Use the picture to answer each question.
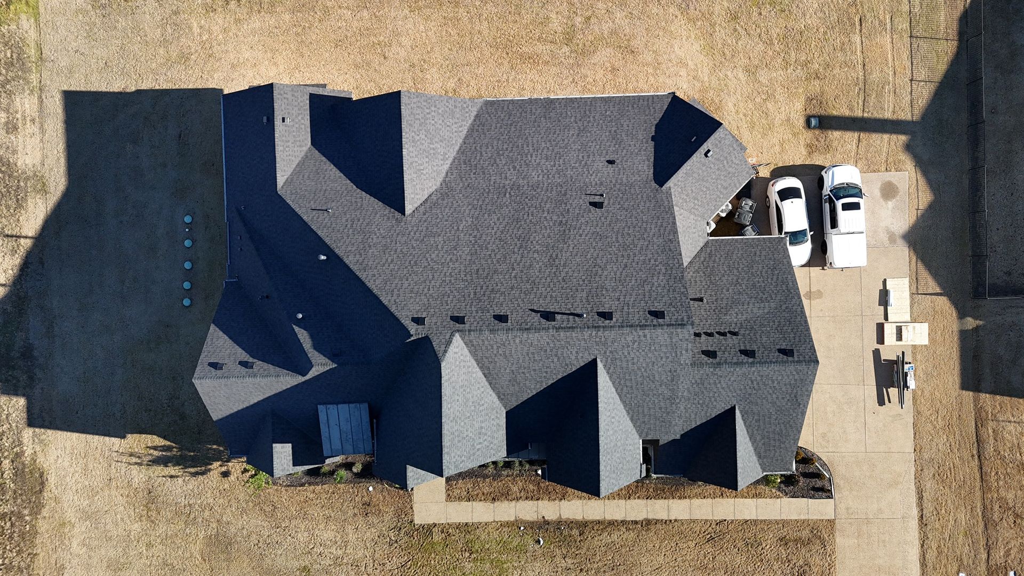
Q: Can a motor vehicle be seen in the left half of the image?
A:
No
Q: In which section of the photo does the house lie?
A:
center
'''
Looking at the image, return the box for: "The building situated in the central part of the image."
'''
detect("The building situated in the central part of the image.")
[193,81,819,497]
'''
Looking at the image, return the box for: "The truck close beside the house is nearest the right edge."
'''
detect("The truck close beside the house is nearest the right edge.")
[816,166,869,274]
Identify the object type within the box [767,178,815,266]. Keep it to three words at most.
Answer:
car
